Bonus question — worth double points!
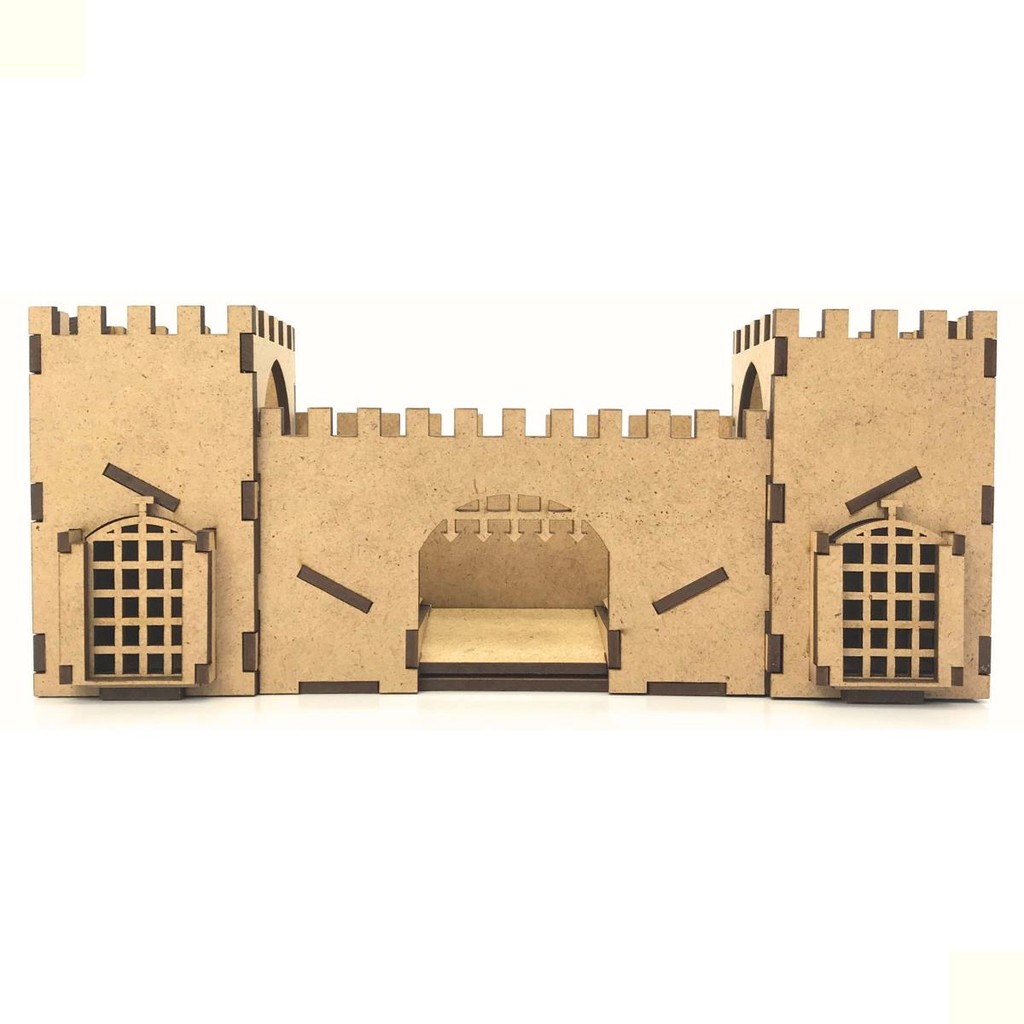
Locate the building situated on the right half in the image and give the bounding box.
[733,309,997,703]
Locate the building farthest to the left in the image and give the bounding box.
[29,306,295,700]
